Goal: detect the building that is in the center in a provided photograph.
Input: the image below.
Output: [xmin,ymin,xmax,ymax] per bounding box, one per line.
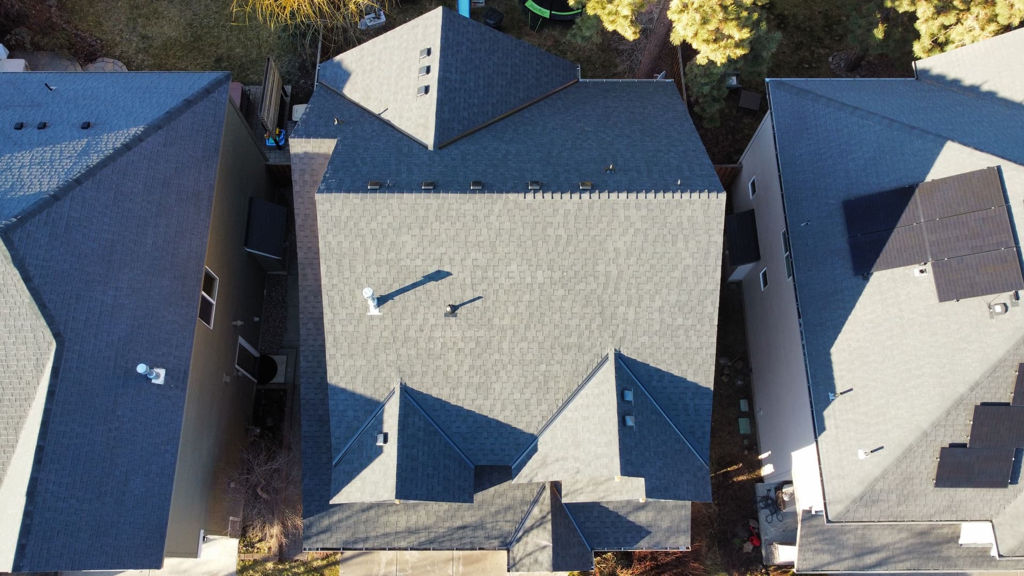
[287,4,727,571]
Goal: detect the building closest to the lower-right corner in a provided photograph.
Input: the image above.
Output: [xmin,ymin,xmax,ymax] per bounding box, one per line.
[721,28,1024,576]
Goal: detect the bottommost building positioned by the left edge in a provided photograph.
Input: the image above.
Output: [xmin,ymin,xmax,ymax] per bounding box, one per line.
[0,71,295,573]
